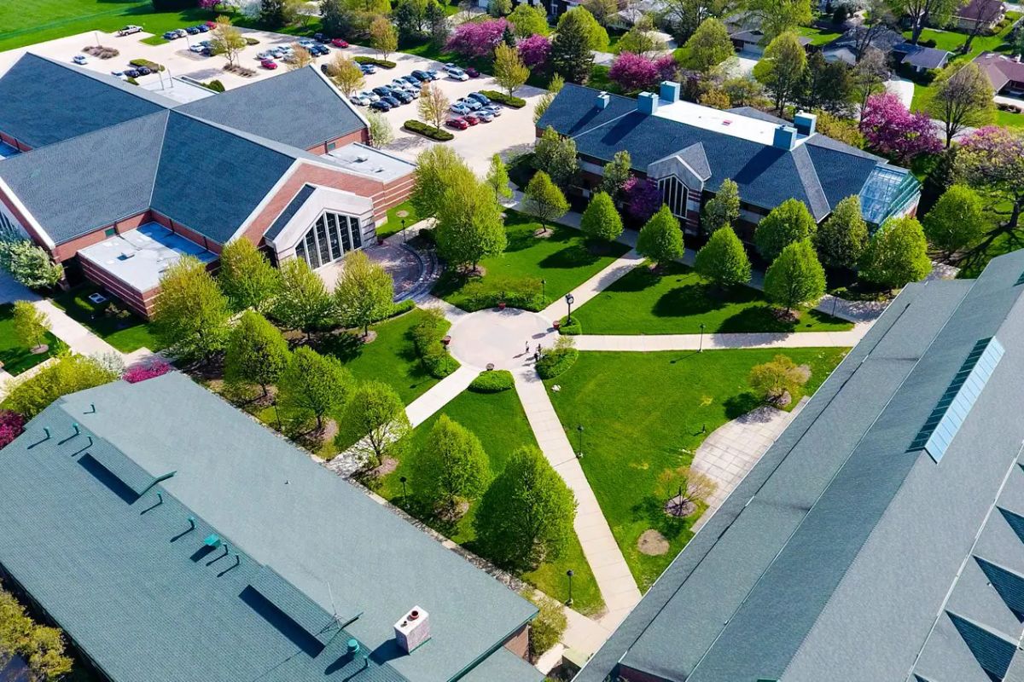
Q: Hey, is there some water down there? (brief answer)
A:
No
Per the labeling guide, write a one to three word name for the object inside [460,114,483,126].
vehicle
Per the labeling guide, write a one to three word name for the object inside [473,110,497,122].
vehicle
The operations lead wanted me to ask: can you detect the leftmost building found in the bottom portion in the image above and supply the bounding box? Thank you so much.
[0,368,546,682]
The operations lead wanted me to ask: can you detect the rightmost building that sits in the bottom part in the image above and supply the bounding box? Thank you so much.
[568,257,1024,682]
